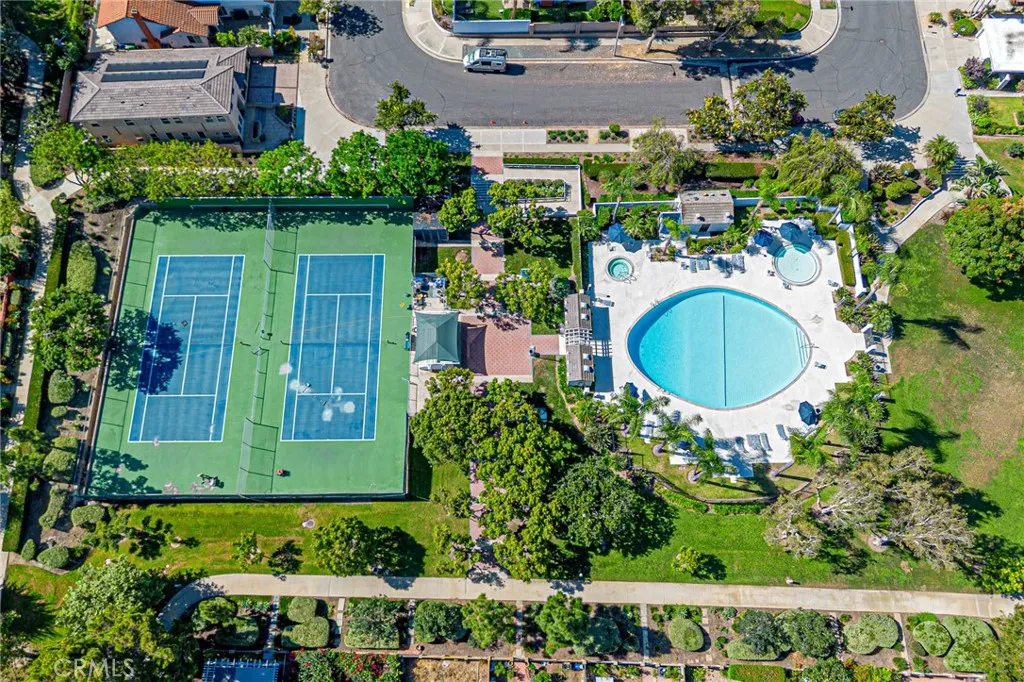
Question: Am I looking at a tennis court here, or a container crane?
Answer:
tennis court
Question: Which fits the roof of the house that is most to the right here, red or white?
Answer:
white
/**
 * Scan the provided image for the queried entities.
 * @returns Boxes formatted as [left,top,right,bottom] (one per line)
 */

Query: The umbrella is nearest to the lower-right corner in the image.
[794,403,819,424]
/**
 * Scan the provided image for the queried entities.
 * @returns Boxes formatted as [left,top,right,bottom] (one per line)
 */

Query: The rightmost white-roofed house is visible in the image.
[970,18,1024,90]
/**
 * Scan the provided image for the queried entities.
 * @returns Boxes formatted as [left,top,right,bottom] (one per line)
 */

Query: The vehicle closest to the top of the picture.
[462,48,506,73]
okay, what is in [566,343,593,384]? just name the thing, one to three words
building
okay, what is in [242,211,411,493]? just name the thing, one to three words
tennis court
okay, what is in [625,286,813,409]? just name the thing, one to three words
swimming pool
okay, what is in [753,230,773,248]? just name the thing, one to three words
umbrella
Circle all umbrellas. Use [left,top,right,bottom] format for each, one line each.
[753,230,773,248]
[778,223,801,243]
[619,382,638,401]
[794,403,819,424]
[606,224,629,244]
